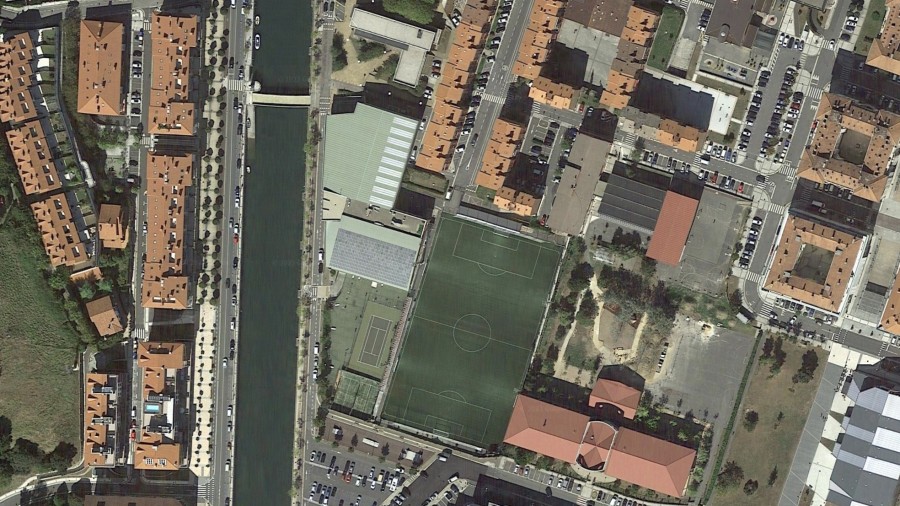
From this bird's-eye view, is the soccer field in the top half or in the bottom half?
bottom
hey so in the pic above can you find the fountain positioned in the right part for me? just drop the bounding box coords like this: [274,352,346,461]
[763,11,780,28]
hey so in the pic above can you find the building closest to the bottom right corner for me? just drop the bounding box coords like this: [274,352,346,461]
[825,351,900,506]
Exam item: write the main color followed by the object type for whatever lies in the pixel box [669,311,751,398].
gray sports court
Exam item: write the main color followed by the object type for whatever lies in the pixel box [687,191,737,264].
gray sports court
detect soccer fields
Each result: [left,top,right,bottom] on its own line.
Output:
[381,213,562,452]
